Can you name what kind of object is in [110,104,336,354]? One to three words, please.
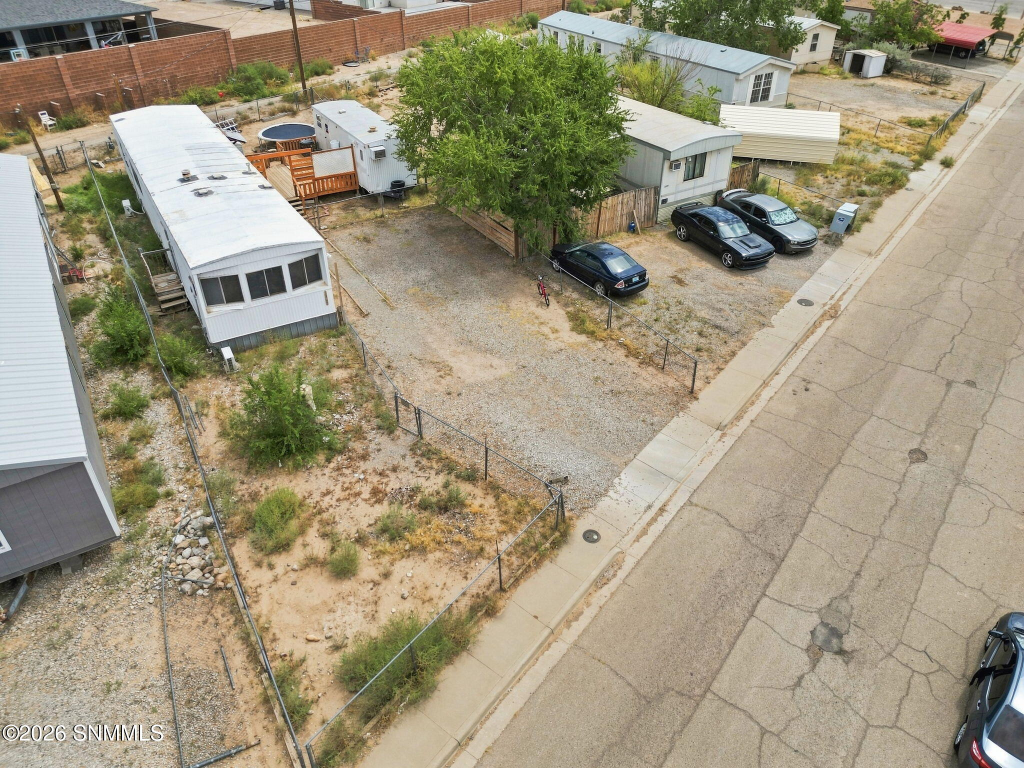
house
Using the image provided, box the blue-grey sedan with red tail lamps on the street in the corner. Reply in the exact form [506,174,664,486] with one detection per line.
[951,602,1024,768]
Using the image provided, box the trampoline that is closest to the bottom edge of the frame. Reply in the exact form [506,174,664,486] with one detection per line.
[251,121,313,152]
